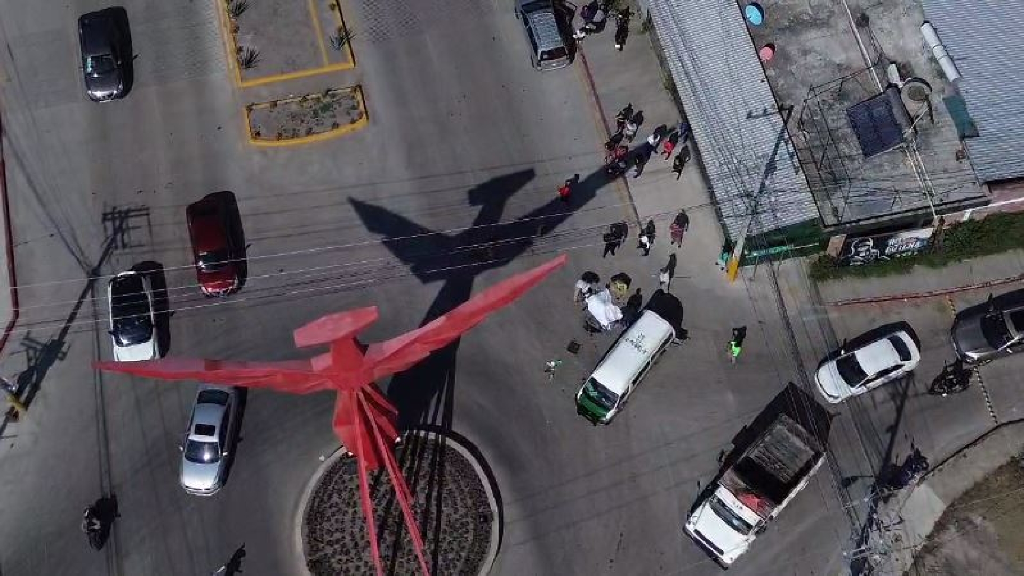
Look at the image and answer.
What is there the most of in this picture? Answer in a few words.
paved ground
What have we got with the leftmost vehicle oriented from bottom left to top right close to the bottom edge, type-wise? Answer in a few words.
truck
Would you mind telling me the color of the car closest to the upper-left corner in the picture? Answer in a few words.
black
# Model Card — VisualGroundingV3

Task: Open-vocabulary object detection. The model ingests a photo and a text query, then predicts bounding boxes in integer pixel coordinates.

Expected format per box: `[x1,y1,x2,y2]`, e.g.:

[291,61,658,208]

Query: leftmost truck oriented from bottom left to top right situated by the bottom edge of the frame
[682,386,835,568]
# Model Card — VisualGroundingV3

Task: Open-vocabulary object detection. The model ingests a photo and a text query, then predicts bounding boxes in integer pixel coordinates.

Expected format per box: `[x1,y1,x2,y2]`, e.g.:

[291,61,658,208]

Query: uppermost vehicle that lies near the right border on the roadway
[946,298,1024,367]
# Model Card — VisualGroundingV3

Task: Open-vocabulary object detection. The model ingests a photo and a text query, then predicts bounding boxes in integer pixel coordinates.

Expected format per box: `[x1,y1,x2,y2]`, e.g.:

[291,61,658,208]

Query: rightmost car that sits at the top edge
[516,0,576,75]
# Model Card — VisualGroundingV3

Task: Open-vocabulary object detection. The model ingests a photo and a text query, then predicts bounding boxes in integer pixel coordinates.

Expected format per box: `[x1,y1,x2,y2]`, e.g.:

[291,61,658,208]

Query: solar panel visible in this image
[847,88,905,162]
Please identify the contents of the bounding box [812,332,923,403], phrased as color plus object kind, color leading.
white car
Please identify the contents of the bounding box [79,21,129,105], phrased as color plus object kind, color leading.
black car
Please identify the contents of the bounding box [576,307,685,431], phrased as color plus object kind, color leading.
white van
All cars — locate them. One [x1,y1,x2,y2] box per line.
[516,0,576,75]
[812,332,923,403]
[187,206,241,300]
[79,21,129,105]
[105,277,161,365]
[177,389,236,497]
[946,298,1024,367]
